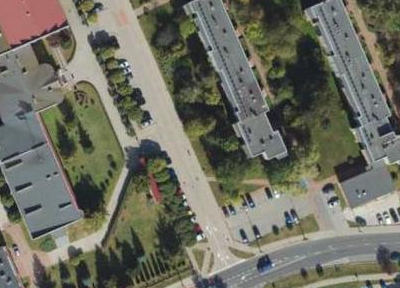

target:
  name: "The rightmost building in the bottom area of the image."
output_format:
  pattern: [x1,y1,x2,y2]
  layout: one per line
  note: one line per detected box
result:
[339,165,395,209]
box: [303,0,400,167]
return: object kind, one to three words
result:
building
